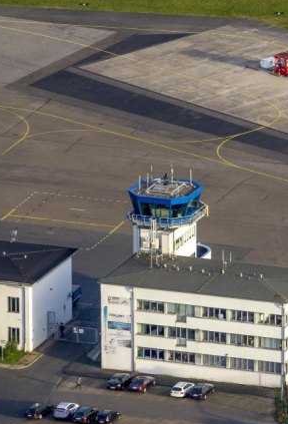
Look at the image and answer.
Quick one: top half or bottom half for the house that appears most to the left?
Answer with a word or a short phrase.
bottom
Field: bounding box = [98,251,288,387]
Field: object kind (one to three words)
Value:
building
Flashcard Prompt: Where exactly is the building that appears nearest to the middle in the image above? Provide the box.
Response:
[124,165,213,259]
